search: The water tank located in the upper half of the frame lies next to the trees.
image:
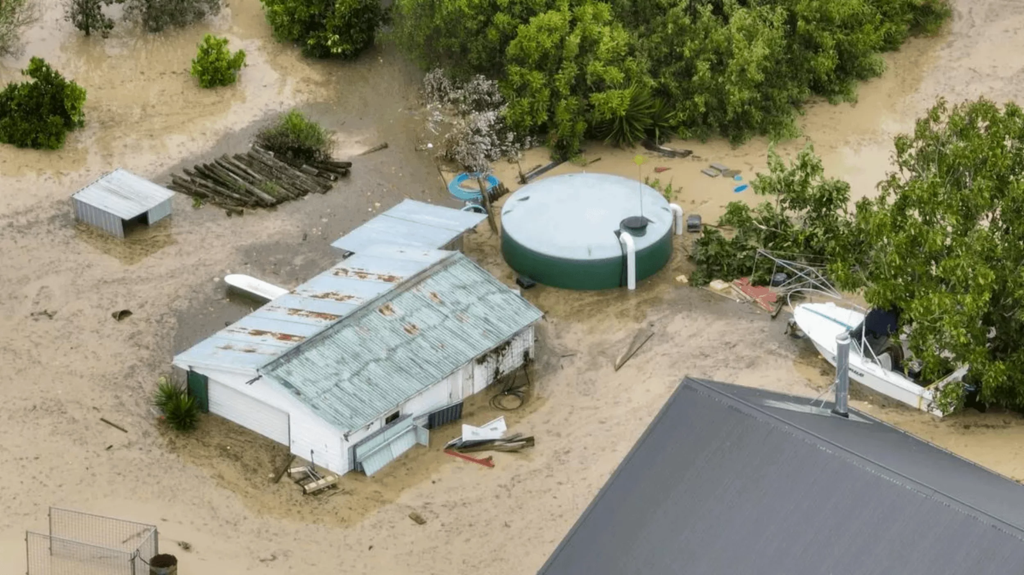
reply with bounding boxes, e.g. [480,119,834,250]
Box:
[500,156,682,290]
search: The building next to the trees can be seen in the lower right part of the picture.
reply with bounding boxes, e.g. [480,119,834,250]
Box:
[543,326,1024,575]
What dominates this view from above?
water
